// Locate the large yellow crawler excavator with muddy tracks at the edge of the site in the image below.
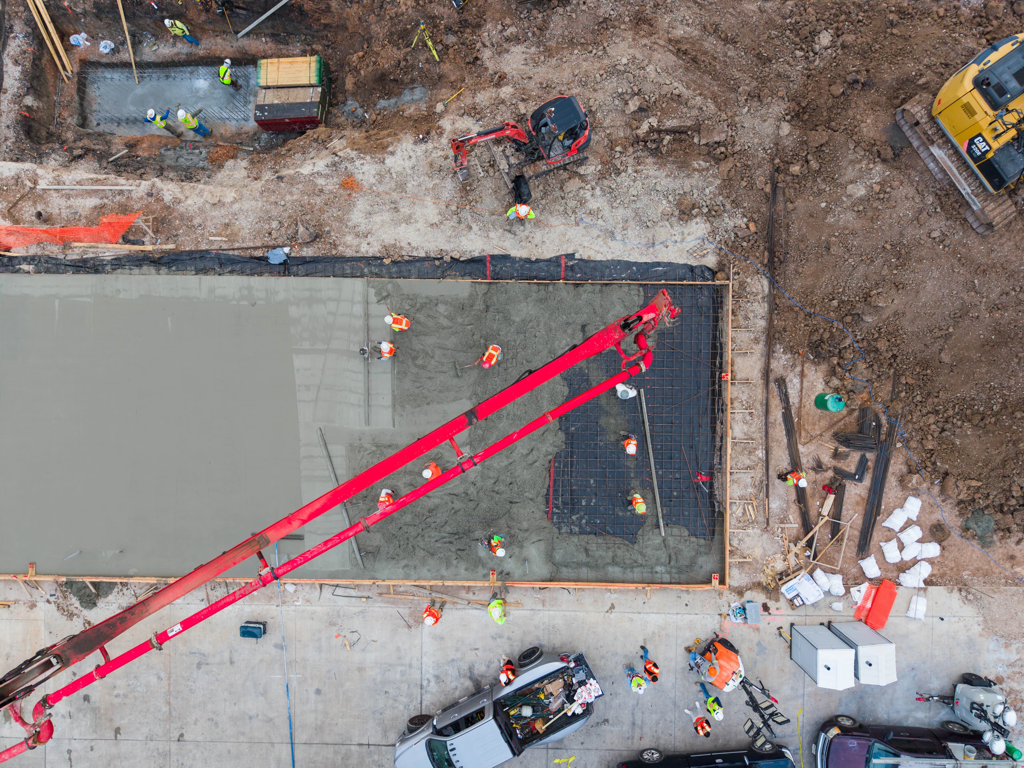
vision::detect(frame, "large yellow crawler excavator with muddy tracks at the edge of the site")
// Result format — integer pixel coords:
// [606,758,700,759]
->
[886,27,1024,239]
